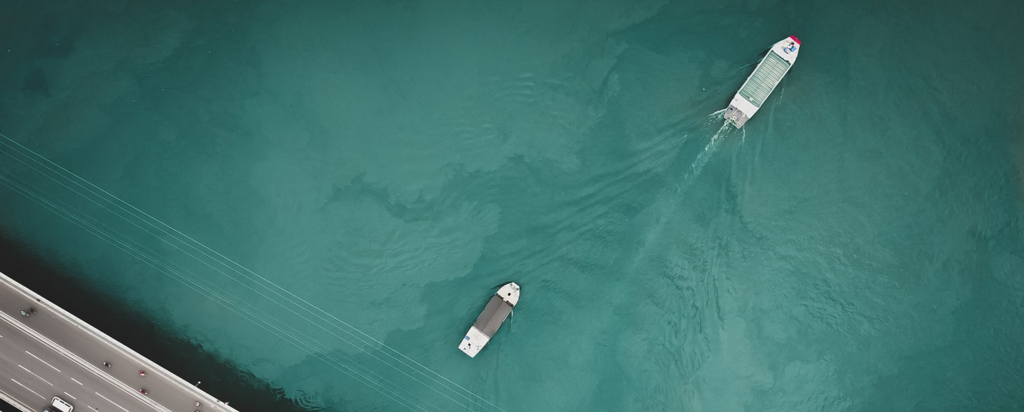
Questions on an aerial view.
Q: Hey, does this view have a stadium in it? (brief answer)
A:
No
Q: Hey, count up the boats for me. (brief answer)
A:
2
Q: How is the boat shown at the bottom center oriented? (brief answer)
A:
at an angle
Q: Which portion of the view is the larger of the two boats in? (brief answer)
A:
top right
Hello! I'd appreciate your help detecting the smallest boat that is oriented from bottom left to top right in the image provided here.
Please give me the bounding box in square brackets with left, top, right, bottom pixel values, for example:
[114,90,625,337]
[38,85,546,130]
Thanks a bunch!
[458,282,520,358]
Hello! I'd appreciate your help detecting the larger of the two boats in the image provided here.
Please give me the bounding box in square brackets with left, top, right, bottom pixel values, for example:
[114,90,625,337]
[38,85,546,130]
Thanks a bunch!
[723,34,801,129]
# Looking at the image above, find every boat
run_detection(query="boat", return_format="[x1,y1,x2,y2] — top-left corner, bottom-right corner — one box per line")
[458,282,520,358]
[723,34,801,129]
